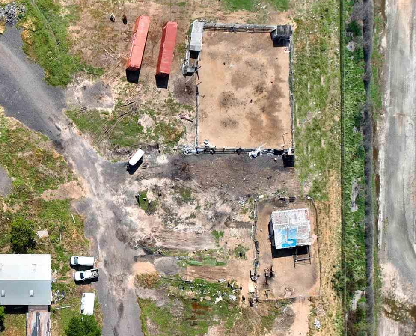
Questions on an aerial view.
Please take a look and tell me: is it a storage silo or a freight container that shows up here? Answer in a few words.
freight container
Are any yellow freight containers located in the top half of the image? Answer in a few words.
No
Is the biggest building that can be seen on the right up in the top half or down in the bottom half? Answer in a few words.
bottom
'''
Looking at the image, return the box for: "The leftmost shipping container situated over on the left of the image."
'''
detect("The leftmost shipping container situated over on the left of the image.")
[124,15,152,74]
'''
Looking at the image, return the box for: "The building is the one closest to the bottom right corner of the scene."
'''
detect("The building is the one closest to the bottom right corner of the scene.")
[267,209,313,248]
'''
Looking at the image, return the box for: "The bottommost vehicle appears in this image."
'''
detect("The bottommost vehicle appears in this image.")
[81,292,94,314]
